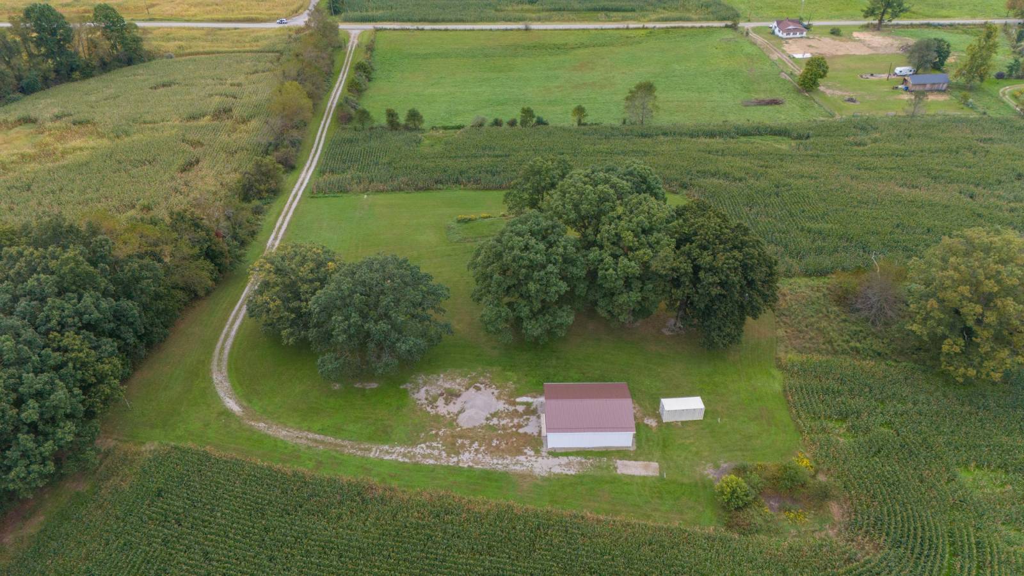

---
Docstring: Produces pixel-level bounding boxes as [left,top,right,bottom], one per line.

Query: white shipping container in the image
[659,395,706,423]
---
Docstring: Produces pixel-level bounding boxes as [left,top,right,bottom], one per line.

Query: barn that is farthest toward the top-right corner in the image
[899,71,952,91]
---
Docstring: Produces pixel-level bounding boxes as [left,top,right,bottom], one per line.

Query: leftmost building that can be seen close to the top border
[774,14,813,38]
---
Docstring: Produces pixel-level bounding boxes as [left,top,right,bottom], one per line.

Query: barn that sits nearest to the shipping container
[541,382,637,449]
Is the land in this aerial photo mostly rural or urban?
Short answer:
rural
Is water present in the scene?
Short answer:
No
